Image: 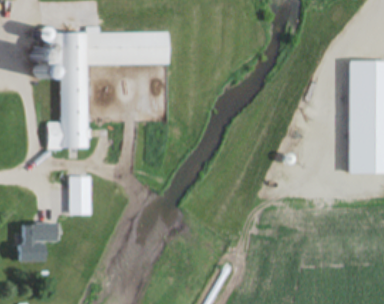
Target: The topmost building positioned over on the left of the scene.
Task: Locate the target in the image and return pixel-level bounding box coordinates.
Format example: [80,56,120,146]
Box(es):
[45,26,171,151]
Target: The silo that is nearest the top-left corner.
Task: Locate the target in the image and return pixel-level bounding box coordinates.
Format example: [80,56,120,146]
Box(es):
[32,26,56,42]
